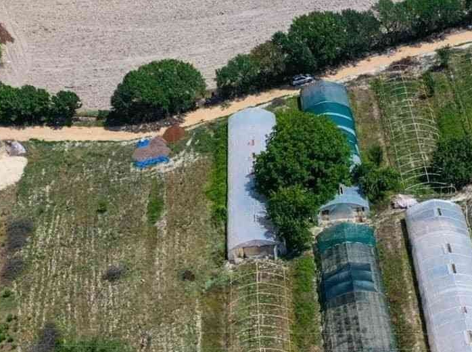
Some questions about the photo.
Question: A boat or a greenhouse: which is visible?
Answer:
greenhouse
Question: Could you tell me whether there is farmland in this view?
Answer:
Yes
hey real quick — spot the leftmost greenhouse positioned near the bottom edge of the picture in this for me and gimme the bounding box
[318,223,395,352]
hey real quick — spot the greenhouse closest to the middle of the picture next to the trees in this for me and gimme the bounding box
[231,108,292,262]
